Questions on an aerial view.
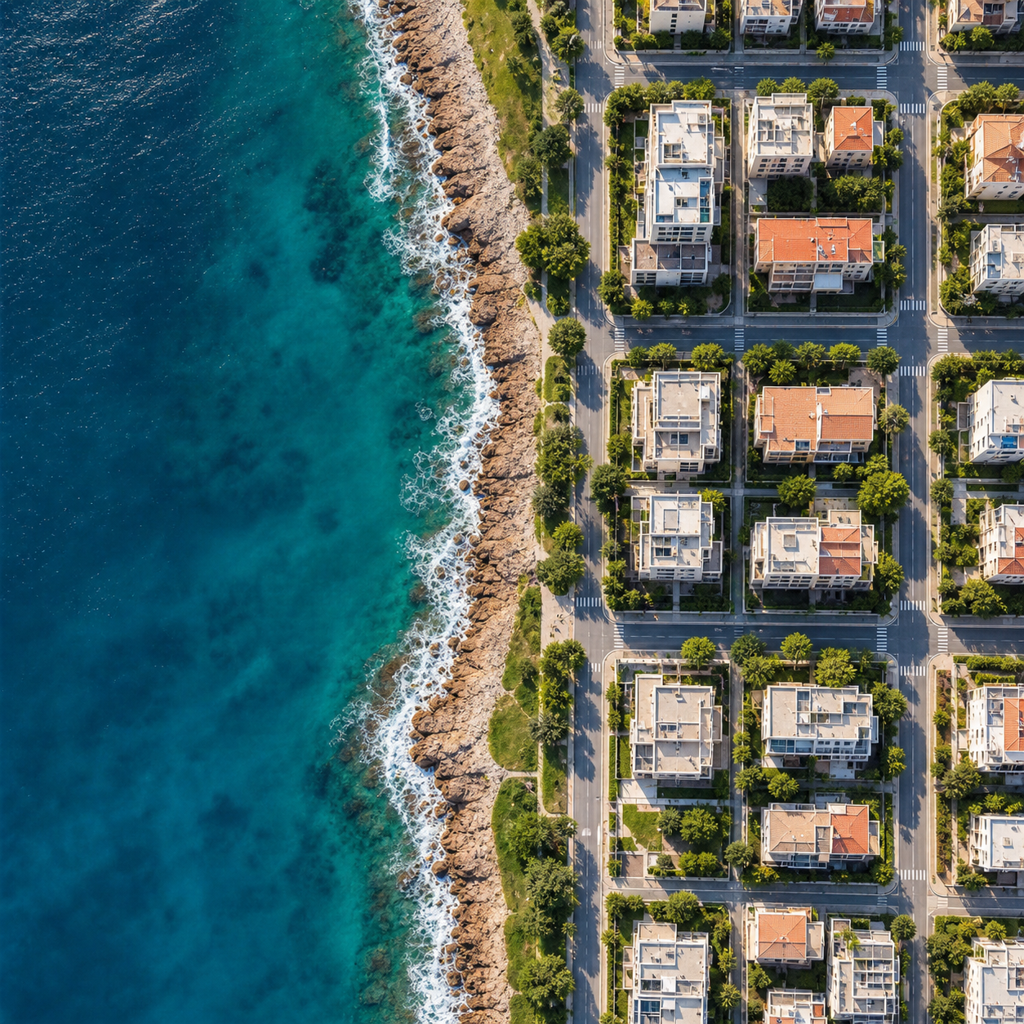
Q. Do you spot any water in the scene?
Yes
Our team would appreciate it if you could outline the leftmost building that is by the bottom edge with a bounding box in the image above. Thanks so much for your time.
[622,923,709,1024]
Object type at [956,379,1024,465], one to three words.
building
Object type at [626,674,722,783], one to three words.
house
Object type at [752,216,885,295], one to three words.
house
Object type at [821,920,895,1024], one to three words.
building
